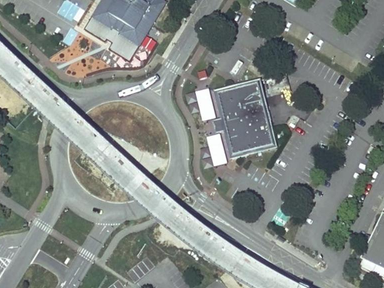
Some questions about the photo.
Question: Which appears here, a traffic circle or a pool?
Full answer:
It is a traffic circle that can be seen here.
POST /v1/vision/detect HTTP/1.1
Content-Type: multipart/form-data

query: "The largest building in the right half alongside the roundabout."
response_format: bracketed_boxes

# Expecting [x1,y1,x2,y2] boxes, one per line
[214,78,277,158]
